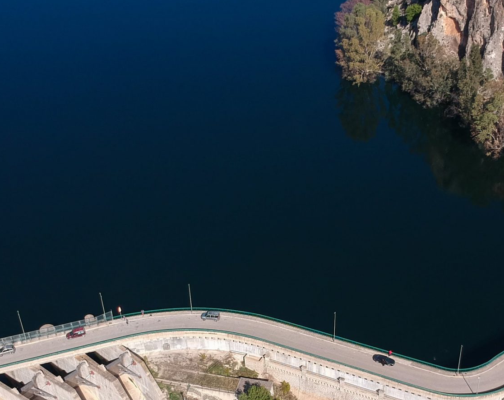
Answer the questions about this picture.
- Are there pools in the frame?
No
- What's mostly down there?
water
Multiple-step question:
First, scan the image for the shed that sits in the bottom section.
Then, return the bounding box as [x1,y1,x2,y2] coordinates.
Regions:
[236,376,274,400]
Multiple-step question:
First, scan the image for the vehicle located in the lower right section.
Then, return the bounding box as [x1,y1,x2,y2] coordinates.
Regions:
[373,352,395,366]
